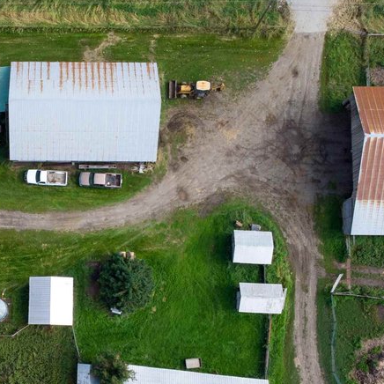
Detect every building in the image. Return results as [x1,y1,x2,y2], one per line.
[233,283,286,314]
[77,363,102,384]
[329,86,384,237]
[127,364,268,384]
[7,62,161,165]
[230,230,273,265]
[29,276,74,326]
